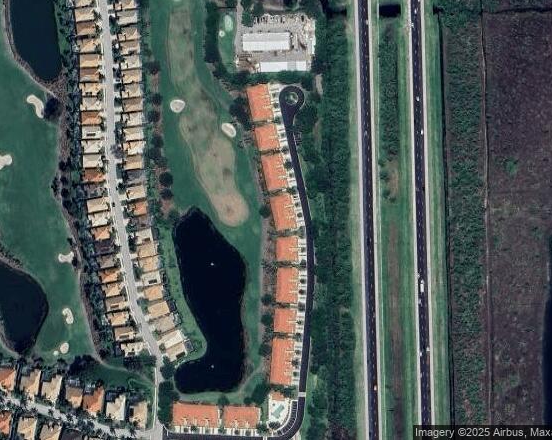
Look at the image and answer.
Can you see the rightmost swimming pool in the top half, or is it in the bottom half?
bottom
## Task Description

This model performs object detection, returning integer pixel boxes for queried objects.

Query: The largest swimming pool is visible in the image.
[269,394,289,425]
